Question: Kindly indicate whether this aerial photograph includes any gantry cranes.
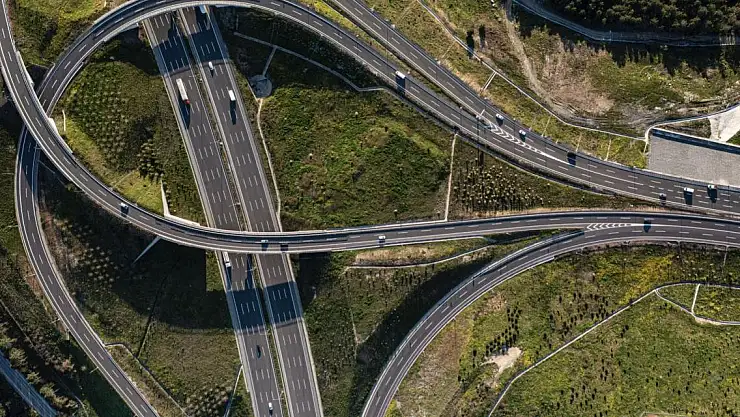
No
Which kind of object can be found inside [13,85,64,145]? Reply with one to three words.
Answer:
overpass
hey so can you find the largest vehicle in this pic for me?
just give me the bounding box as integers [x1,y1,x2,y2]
[176,76,189,103]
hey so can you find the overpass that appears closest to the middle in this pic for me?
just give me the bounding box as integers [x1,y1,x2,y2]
[184,221,325,259]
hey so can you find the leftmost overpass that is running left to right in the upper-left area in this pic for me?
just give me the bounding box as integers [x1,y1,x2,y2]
[134,0,230,28]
